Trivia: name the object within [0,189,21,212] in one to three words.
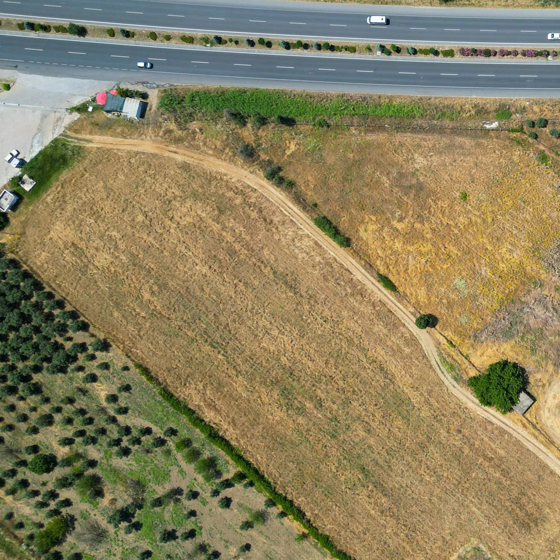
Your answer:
shed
